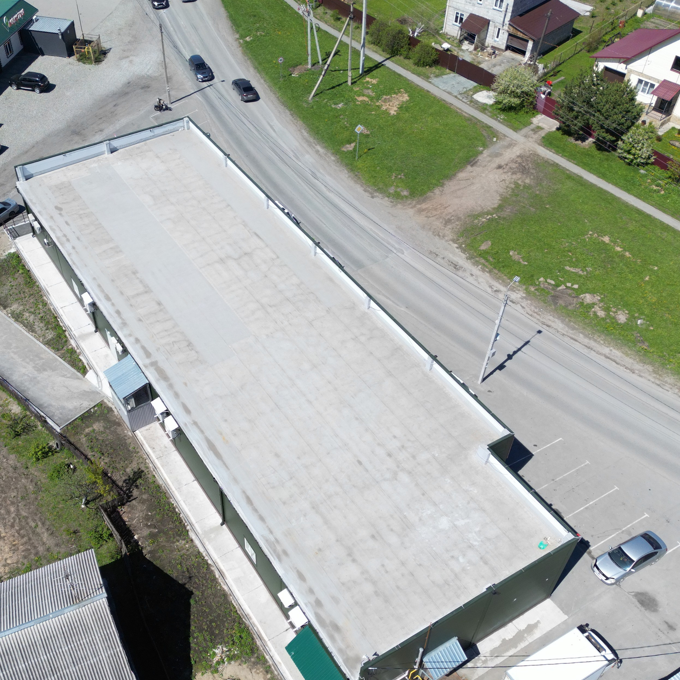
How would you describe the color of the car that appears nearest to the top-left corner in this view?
black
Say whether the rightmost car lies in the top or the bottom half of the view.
bottom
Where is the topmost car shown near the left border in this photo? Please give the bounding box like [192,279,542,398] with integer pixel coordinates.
[7,70,50,93]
